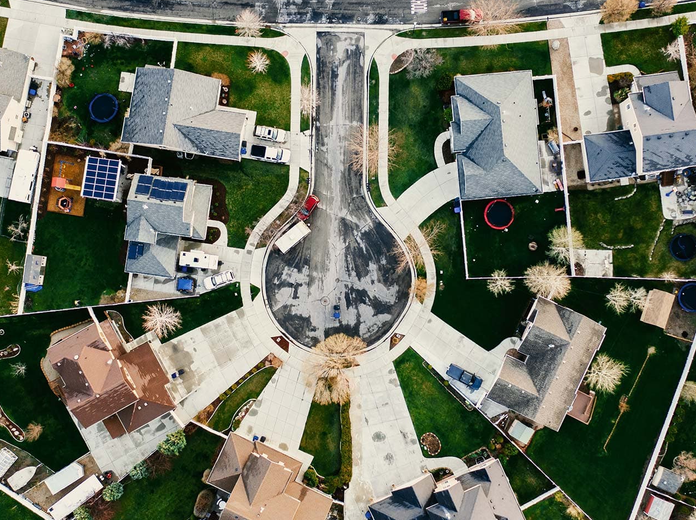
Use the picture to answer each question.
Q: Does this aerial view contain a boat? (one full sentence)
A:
Yes, there is a boat in the image.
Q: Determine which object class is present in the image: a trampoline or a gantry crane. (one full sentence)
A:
There is a trampoline in the scene.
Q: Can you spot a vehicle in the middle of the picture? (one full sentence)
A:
Yes, a vehicle can be seen in the middle of the picture.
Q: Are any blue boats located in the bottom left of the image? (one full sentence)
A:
No, no blue boat is visible in the bottom left of the image.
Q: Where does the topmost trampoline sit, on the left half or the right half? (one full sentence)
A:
The topmost trampoline appears in the left half of the scene.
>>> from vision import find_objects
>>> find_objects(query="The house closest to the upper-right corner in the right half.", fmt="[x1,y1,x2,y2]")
[580,71,696,182]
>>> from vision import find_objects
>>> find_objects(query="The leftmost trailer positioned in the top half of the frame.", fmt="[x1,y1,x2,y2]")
[10,147,44,204]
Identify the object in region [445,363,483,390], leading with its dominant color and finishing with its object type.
blue truck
